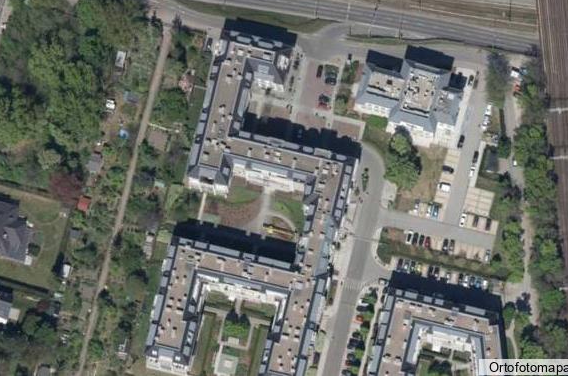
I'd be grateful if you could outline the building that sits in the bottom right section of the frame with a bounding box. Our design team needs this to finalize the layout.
[370,293,514,376]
